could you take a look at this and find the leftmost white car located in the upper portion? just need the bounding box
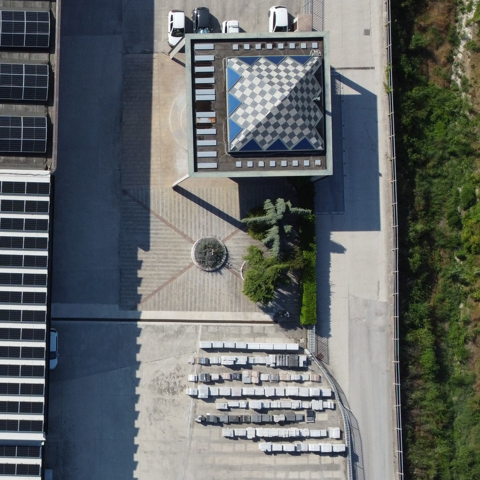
[168,6,189,48]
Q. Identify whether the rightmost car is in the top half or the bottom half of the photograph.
top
